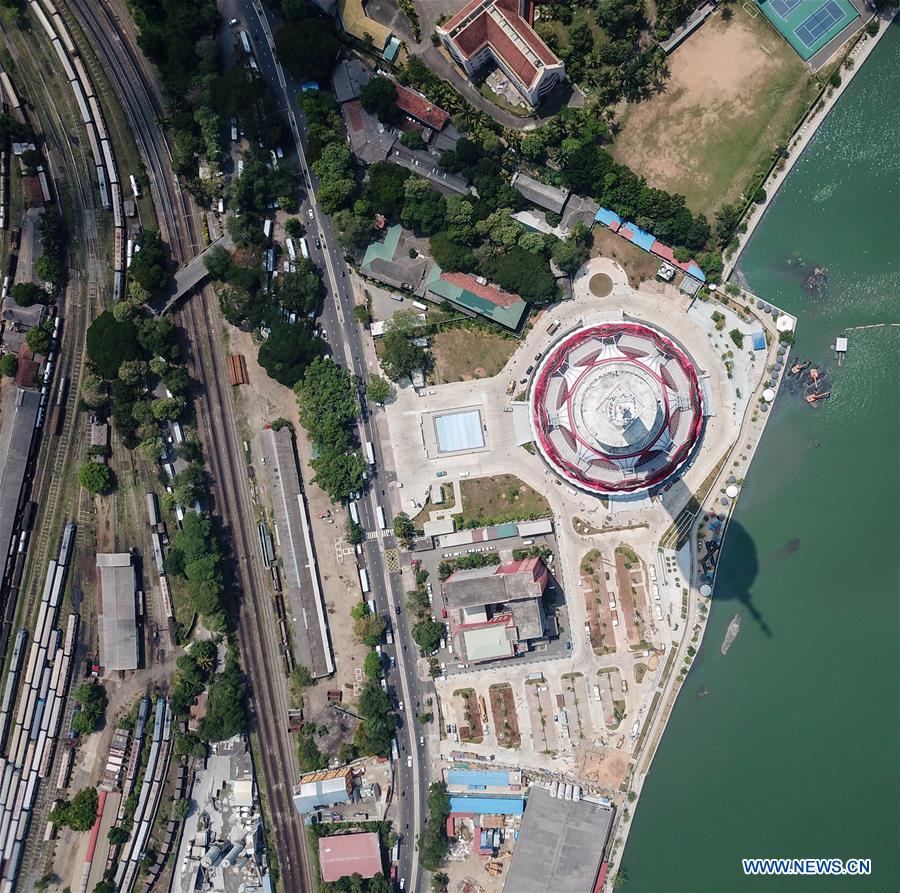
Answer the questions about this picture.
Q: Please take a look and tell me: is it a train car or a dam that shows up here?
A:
train car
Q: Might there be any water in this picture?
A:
Yes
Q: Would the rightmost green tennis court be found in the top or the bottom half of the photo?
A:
top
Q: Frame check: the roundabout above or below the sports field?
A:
below it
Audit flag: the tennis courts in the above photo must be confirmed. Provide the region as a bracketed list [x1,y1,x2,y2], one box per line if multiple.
[758,0,860,61]
[768,0,804,18]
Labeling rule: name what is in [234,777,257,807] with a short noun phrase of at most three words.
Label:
shed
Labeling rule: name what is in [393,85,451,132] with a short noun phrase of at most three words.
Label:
building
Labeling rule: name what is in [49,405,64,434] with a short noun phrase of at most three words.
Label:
rail car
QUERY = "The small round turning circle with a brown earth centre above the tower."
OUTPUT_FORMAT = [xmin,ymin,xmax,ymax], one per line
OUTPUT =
[570,253,633,316]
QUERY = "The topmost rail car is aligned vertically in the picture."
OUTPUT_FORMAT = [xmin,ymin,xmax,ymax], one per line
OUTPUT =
[97,166,113,210]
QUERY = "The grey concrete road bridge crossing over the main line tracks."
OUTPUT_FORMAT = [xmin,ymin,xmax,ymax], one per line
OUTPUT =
[164,234,228,302]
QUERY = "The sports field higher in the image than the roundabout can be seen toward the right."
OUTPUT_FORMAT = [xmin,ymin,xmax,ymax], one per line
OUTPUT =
[613,0,813,221]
